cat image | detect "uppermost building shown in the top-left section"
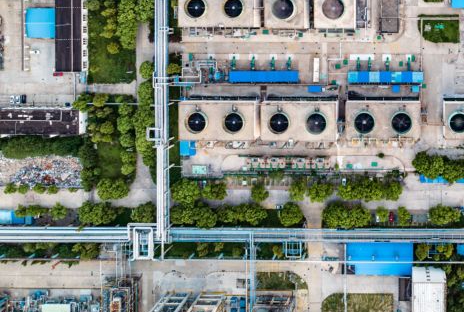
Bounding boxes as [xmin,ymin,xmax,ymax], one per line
[55,0,92,71]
